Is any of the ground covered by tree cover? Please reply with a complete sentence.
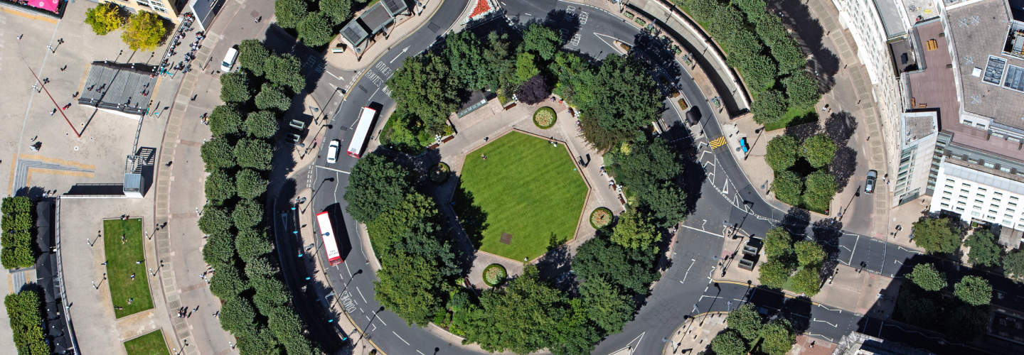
Yes, the picture does contain tree cover.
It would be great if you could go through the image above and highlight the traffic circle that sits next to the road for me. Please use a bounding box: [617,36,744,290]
[316,0,718,355]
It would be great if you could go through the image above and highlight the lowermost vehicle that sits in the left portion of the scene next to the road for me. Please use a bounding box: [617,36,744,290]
[316,212,342,264]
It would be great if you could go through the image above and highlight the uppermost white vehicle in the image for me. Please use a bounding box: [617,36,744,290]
[222,44,239,72]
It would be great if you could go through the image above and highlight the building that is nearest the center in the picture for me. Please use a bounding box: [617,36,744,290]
[450,87,489,123]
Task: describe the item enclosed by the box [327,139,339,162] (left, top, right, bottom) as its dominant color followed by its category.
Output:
white vehicle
